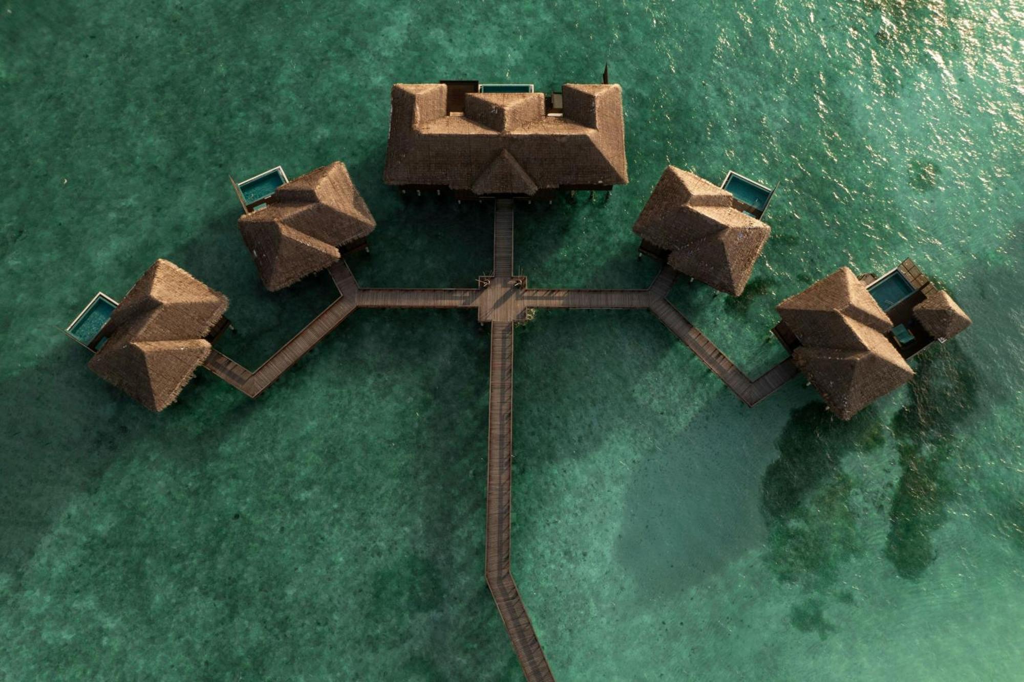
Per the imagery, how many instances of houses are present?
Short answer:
5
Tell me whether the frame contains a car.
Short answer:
No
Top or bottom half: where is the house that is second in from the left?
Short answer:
top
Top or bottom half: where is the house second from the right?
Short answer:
top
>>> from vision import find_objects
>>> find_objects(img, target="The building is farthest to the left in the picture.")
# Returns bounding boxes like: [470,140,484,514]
[52,258,237,414]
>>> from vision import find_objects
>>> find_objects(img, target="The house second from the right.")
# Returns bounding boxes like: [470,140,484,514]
[631,166,781,298]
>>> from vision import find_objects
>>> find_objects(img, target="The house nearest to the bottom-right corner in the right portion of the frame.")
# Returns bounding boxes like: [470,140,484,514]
[767,266,947,422]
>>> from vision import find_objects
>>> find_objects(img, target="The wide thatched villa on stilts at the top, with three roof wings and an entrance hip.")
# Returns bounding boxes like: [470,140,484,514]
[383,61,631,209]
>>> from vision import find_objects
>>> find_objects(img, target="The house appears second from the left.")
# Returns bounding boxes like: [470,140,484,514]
[228,161,375,291]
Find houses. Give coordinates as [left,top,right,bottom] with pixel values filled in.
[383,61,631,209]
[767,266,947,422]
[52,258,237,414]
[228,161,375,291]
[631,166,781,298]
